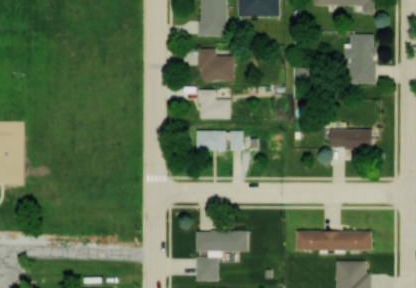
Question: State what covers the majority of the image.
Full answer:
The bulk of the photo consists of grass.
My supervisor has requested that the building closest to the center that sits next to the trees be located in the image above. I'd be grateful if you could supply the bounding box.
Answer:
[196,130,226,151]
